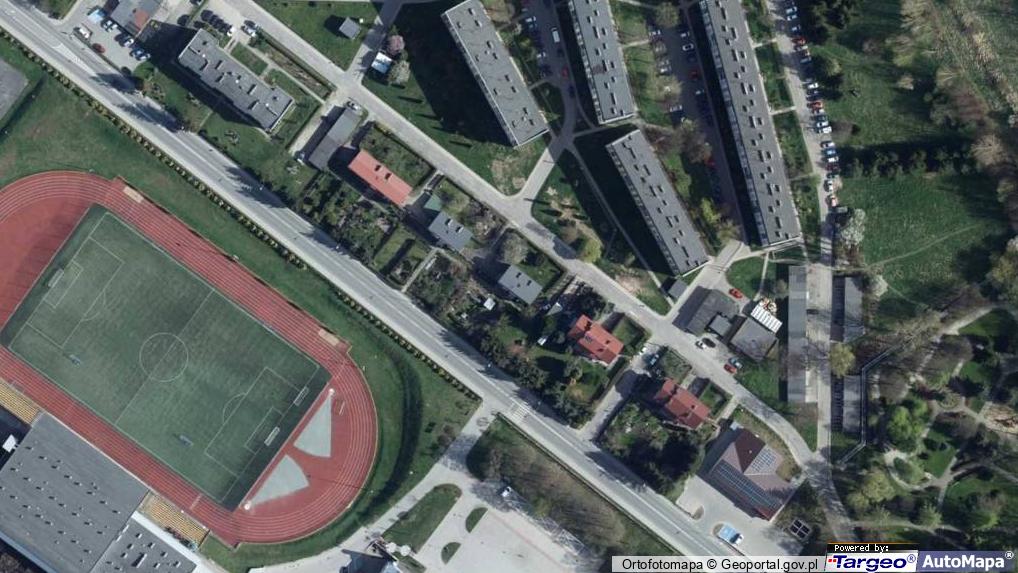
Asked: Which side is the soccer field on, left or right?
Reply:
left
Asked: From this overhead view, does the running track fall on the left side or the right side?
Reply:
left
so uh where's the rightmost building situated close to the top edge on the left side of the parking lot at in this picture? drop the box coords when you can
[569,0,636,124]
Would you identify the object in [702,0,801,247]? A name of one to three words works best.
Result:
building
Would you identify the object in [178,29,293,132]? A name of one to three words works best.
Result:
building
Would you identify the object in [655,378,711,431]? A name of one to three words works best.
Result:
house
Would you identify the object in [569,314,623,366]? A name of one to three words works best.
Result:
house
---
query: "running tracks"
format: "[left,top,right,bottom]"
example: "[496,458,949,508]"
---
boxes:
[0,169,379,552]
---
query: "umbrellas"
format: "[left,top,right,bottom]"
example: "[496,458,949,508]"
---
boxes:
[400,545,410,555]
[386,541,396,552]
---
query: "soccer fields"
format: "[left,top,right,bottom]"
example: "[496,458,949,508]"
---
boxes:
[0,201,333,513]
